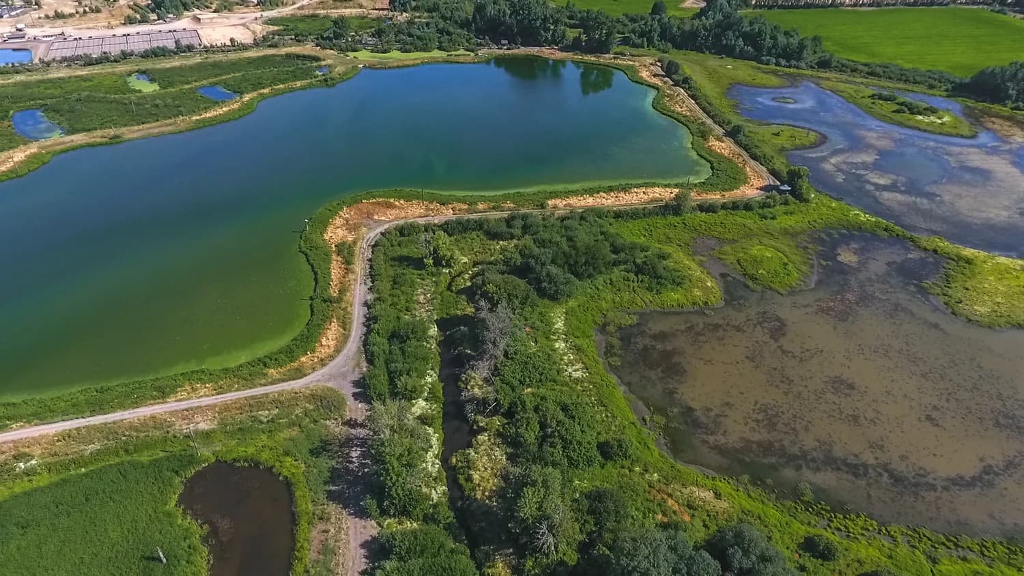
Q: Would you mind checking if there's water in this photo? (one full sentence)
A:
Yes, there's water in this view.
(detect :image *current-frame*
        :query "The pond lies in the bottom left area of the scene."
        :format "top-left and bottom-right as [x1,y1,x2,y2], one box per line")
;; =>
[182,462,296,576]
